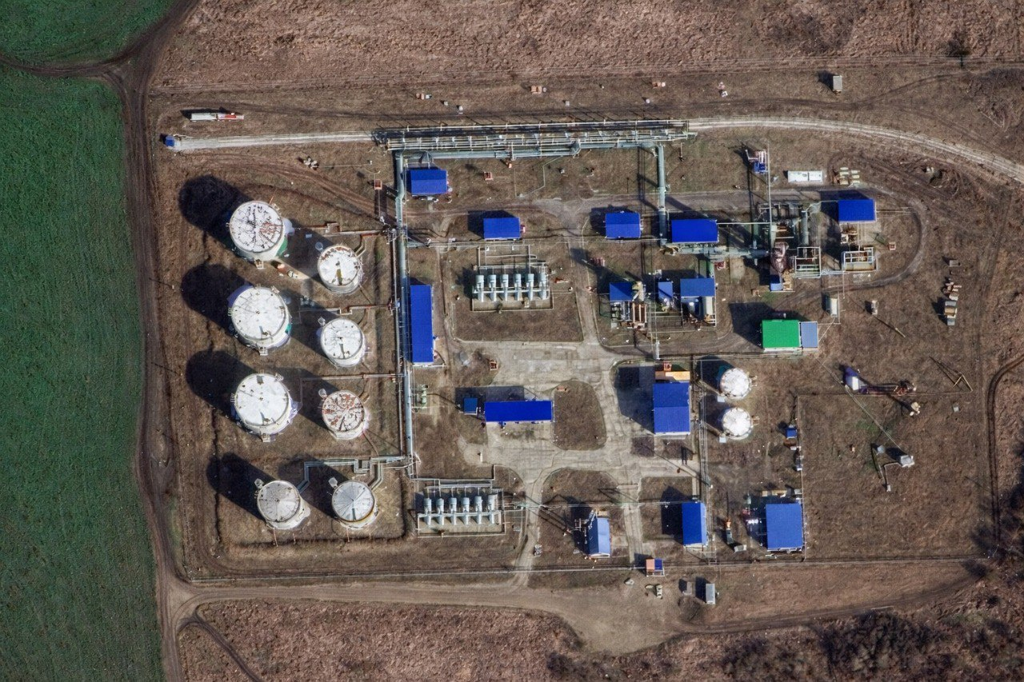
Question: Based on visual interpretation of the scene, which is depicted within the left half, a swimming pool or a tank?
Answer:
tank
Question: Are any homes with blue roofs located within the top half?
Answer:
Yes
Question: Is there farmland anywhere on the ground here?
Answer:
Yes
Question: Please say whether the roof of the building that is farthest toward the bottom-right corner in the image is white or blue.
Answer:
blue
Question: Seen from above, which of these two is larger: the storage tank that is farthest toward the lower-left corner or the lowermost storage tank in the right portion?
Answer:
the storage tank that is farthest toward the lower-left corner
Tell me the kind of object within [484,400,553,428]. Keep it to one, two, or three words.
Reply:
building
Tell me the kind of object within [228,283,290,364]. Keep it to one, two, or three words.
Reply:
storage tank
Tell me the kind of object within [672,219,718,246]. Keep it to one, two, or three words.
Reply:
house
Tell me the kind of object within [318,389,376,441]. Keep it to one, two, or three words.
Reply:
storage tank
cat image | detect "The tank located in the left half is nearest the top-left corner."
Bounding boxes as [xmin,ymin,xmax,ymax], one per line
[226,200,288,276]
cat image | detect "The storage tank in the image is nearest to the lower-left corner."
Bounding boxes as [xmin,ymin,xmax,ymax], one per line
[254,479,308,545]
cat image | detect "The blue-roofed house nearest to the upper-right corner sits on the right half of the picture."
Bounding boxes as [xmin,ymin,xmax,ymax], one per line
[838,199,877,225]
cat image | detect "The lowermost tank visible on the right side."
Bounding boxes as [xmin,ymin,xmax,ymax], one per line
[721,406,758,441]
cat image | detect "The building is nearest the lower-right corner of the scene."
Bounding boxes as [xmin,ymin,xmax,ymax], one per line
[764,502,804,553]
